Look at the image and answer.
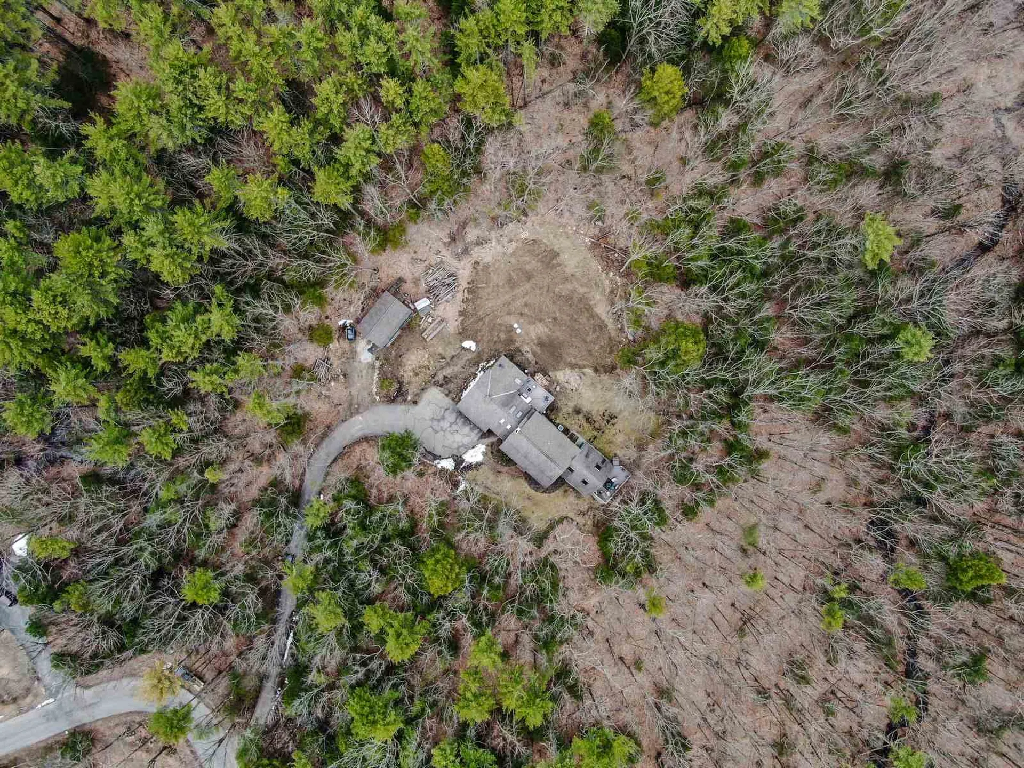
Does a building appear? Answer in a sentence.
Yes, a building is visible in the scene.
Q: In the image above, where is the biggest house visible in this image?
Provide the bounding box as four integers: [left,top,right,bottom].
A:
[457,355,629,502]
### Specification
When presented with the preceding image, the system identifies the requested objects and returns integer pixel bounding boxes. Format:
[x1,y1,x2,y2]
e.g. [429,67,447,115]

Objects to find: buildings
[457,355,629,502]
[358,291,413,347]
[413,298,431,316]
